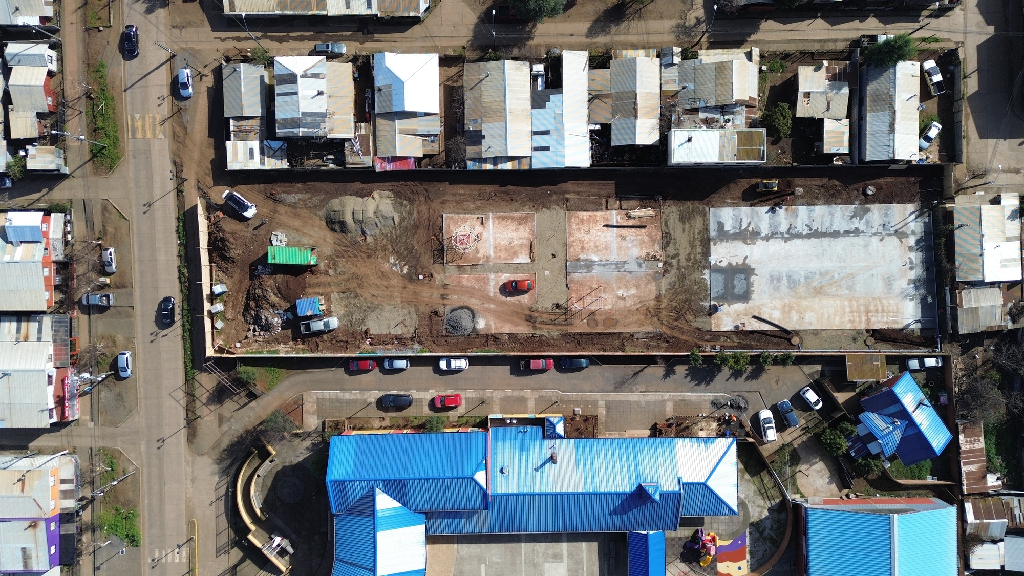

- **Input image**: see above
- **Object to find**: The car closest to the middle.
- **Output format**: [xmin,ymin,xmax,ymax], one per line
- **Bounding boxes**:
[505,278,535,294]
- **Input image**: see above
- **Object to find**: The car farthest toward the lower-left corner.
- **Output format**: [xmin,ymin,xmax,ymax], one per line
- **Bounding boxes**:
[116,349,135,378]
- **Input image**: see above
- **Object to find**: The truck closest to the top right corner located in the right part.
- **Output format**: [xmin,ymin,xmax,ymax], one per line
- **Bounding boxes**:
[921,59,947,98]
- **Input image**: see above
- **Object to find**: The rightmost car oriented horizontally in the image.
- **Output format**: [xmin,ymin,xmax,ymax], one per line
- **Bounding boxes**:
[904,355,943,370]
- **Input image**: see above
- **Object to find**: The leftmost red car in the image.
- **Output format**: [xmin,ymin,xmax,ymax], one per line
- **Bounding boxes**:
[350,357,378,373]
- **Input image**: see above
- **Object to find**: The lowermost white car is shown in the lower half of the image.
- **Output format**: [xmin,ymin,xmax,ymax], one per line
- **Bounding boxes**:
[758,408,777,443]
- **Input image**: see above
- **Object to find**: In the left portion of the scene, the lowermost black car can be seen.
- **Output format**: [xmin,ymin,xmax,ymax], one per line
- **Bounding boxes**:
[382,392,413,409]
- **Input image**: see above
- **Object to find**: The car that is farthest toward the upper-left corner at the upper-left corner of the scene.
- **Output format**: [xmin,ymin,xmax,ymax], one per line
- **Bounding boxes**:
[122,25,142,57]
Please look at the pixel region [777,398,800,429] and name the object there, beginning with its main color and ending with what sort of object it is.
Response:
blue car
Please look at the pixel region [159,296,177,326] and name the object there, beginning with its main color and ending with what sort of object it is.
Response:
black car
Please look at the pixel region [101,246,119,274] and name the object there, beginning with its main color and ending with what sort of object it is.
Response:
gray car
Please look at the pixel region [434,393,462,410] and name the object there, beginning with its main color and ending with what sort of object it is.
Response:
red car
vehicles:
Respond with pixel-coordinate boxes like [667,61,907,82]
[919,119,942,150]
[178,68,196,98]
[222,189,256,218]
[298,316,339,335]
[384,356,411,372]
[904,355,943,370]
[560,356,590,371]
[439,356,469,372]
[798,384,822,412]
[758,408,777,443]
[530,60,547,90]
[434,393,462,410]
[520,356,554,373]
[314,40,347,58]
[921,59,947,98]
[350,357,378,373]
[755,178,781,193]
[122,25,142,57]
[505,278,535,294]
[83,292,116,309]
[777,398,800,429]
[382,392,413,409]
[159,296,177,326]
[116,349,135,378]
[101,246,119,274]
